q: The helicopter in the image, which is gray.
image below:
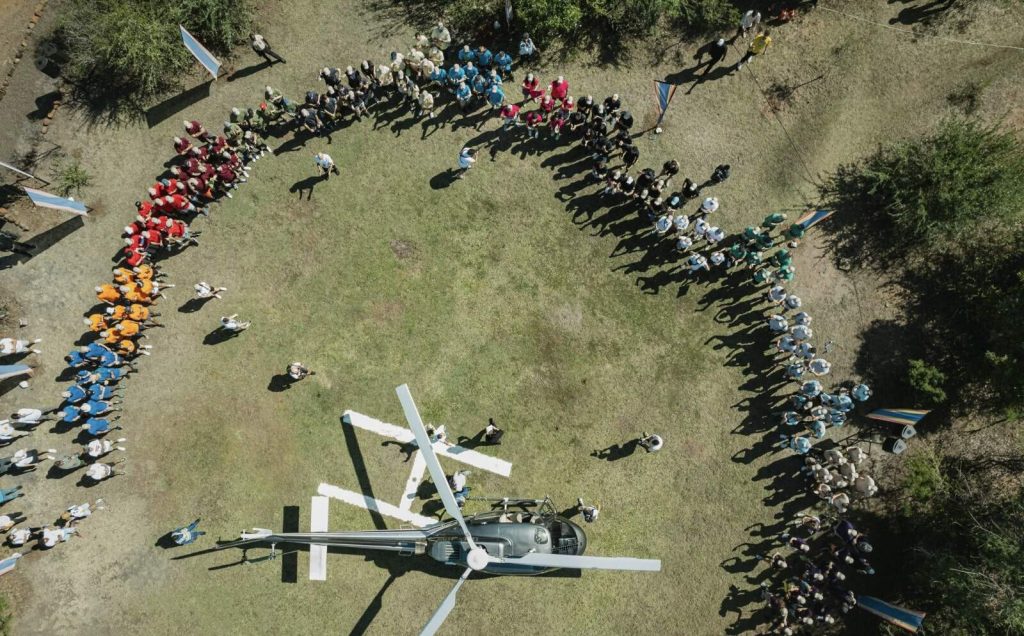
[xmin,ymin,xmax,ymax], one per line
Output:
[210,388,662,636]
